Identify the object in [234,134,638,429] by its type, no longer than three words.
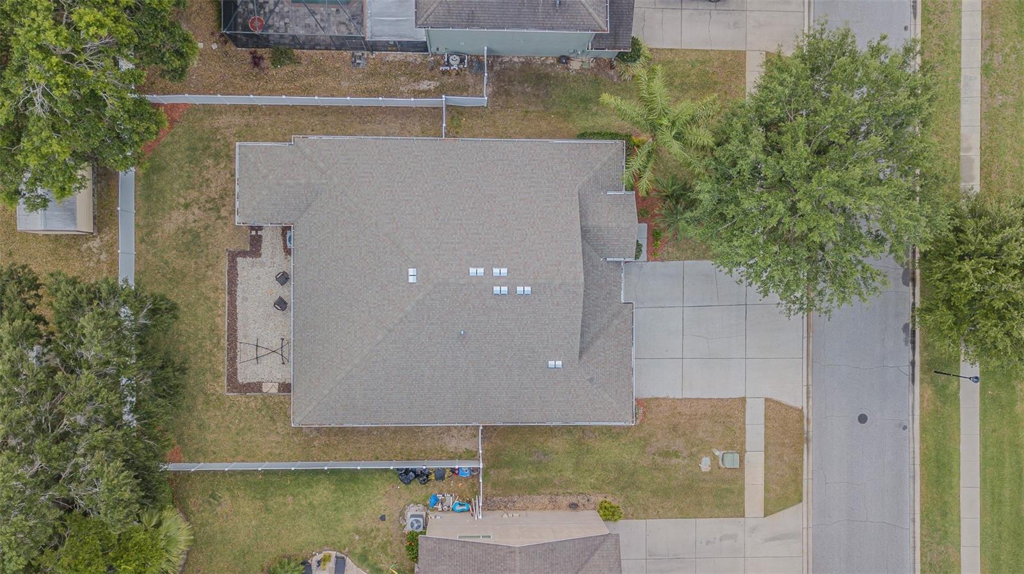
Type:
house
